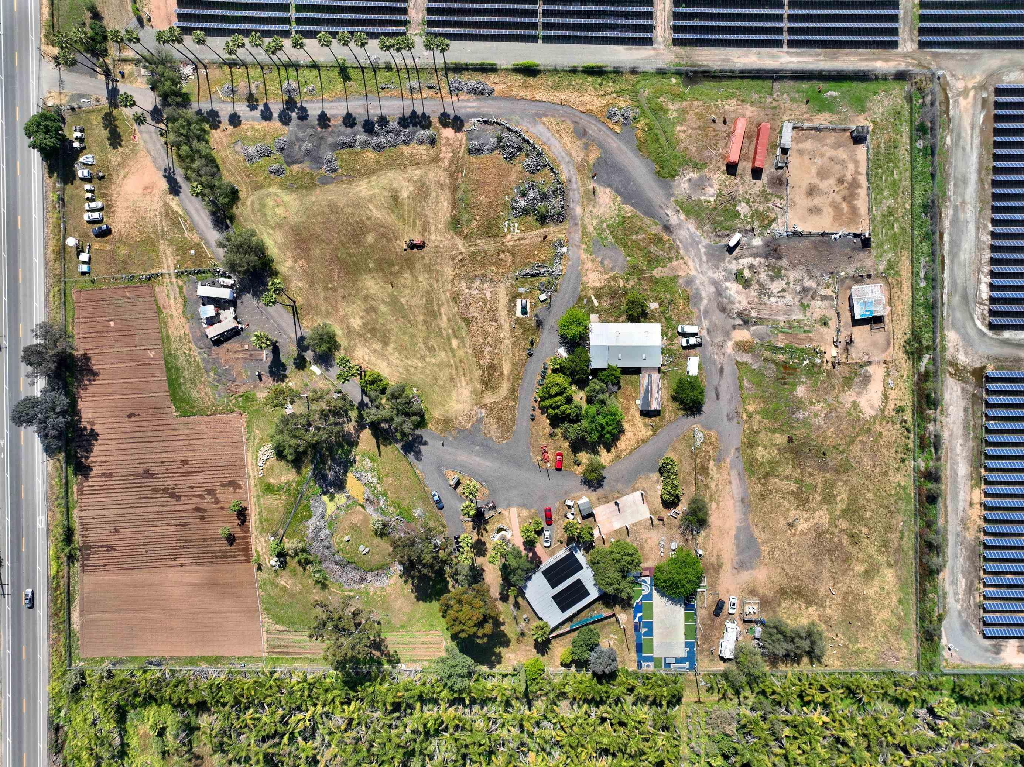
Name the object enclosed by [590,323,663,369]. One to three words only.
house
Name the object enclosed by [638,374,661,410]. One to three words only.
building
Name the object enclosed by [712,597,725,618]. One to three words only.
vehicle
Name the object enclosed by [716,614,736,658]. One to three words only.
camper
